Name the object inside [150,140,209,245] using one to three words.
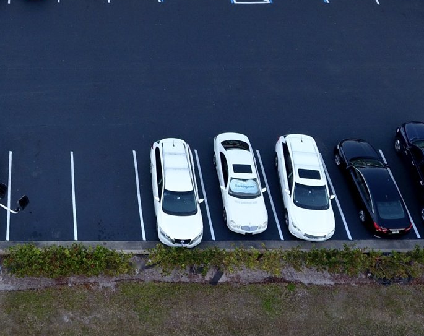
car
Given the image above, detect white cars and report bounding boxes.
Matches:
[214,137,274,234]
[276,136,341,237]
[150,140,209,245]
